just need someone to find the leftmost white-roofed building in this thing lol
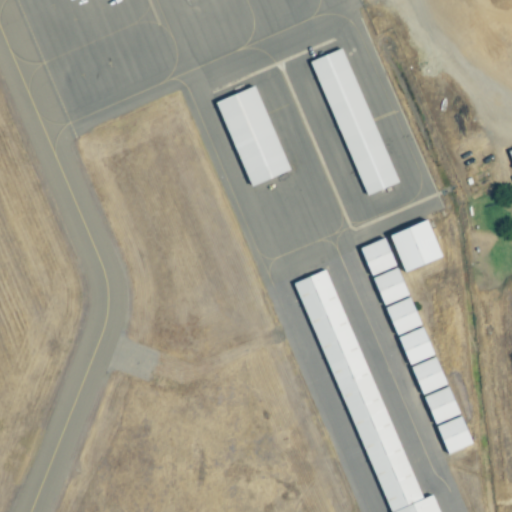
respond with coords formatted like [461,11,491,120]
[217,86,292,186]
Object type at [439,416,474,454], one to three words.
hangar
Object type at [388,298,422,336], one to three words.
hangar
